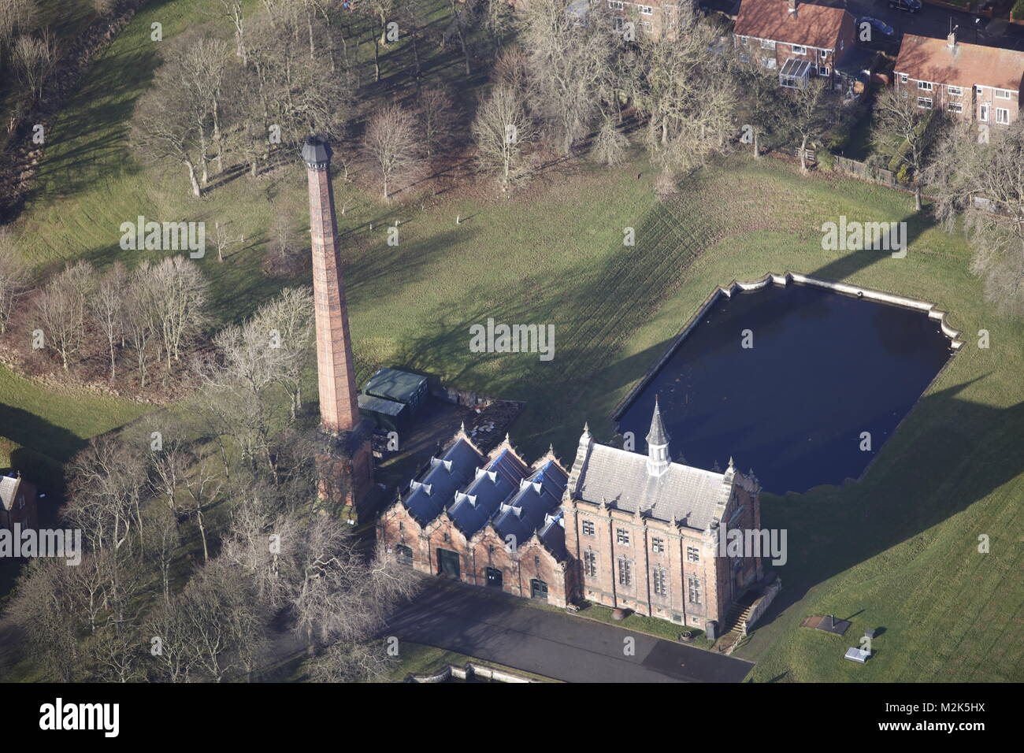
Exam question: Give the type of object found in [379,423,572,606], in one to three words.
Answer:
building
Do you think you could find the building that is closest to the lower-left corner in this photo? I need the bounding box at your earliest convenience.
[0,461,41,545]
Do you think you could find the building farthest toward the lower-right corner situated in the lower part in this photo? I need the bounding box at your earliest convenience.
[561,391,762,636]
